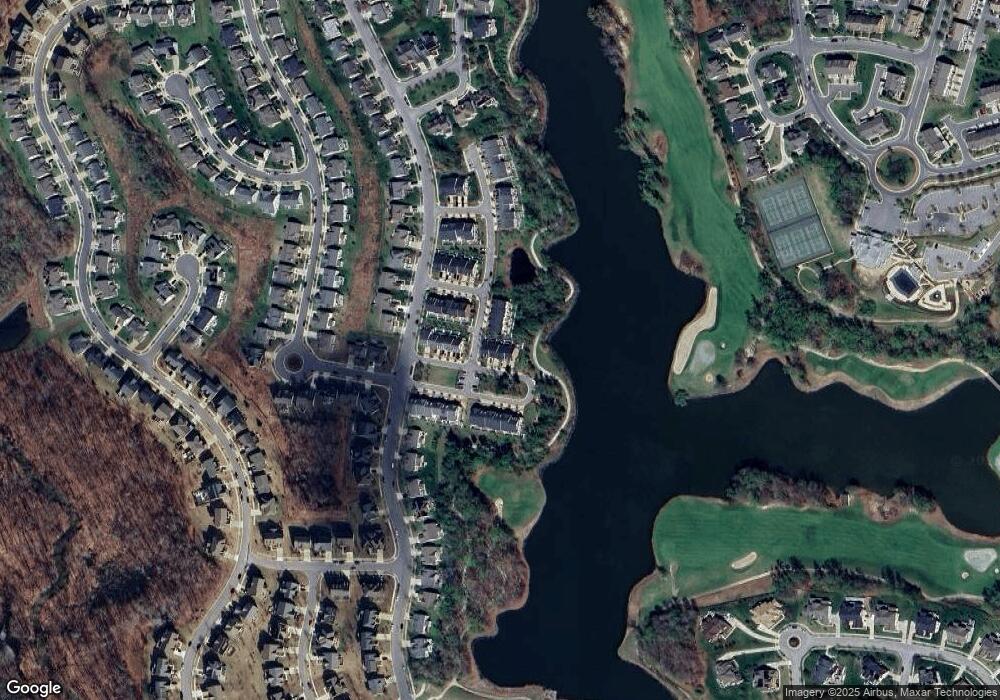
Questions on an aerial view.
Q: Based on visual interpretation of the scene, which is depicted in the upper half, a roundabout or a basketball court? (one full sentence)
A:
It is a roundabout that can be seen in the upper half.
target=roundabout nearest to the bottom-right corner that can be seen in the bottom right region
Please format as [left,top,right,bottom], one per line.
[778,625,810,657]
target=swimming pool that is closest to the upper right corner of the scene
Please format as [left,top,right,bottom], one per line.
[886,264,923,303]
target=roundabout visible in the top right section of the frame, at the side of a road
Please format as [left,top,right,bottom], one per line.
[866,137,930,200]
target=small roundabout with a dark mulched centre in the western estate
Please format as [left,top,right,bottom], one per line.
[273,342,312,381]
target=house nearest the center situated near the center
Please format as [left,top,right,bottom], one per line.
[479,337,516,365]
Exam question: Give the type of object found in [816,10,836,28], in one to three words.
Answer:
building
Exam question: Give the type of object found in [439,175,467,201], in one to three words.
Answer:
house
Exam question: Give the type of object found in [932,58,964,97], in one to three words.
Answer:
building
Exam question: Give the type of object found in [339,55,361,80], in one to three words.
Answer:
house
